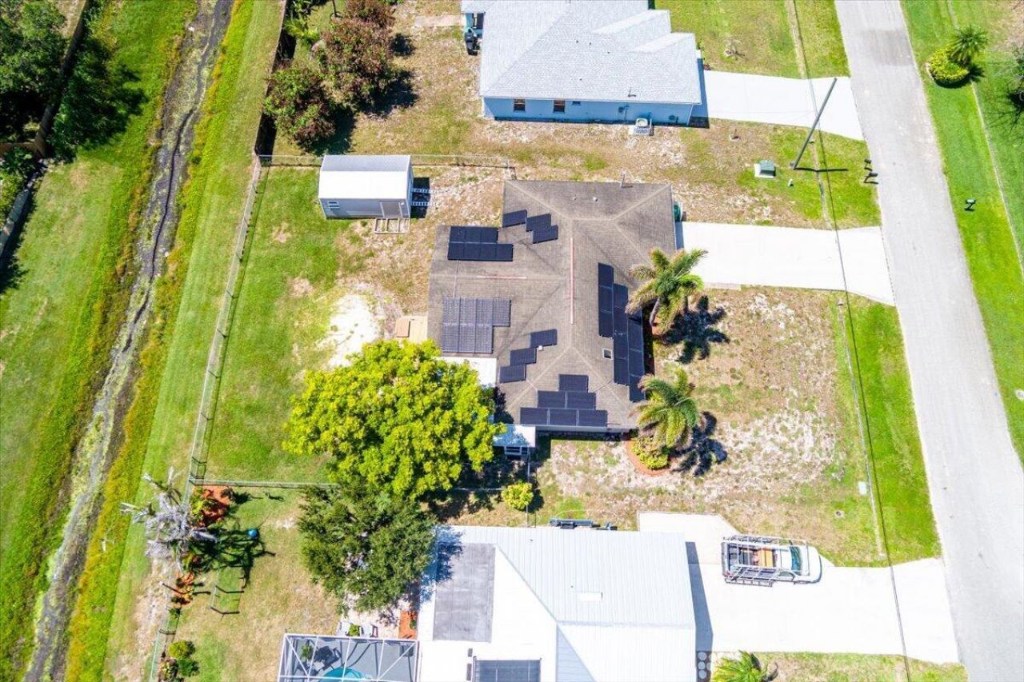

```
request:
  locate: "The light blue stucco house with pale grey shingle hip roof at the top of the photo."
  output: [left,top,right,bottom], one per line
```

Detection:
[461,0,701,125]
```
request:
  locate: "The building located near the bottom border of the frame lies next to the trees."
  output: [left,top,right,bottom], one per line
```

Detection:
[413,525,699,682]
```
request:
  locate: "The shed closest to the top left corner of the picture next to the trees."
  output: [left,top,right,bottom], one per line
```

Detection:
[317,154,415,220]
